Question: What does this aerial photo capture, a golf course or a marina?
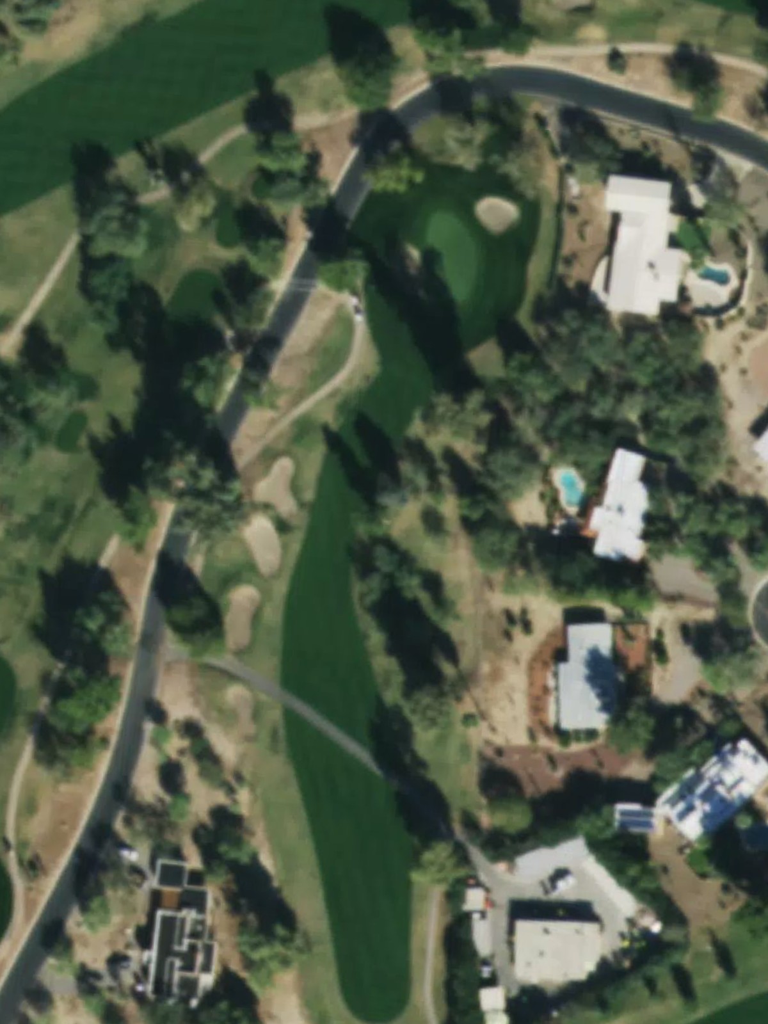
golf course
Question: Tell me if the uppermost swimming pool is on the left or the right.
right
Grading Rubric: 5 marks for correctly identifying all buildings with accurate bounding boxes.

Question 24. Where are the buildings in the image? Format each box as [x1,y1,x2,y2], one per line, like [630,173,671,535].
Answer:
[548,624,647,731]
[755,431,768,460]
[485,1013,509,1024]
[480,988,506,1013]
[142,860,218,1007]
[464,889,486,910]
[656,738,768,843]
[580,449,649,561]
[515,923,602,984]
[606,174,680,315]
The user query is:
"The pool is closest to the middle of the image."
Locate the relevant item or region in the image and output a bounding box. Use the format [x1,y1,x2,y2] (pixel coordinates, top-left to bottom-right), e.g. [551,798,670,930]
[552,466,586,514]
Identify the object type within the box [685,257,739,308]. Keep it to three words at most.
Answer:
swimming pool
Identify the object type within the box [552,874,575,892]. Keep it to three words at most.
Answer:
vehicle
